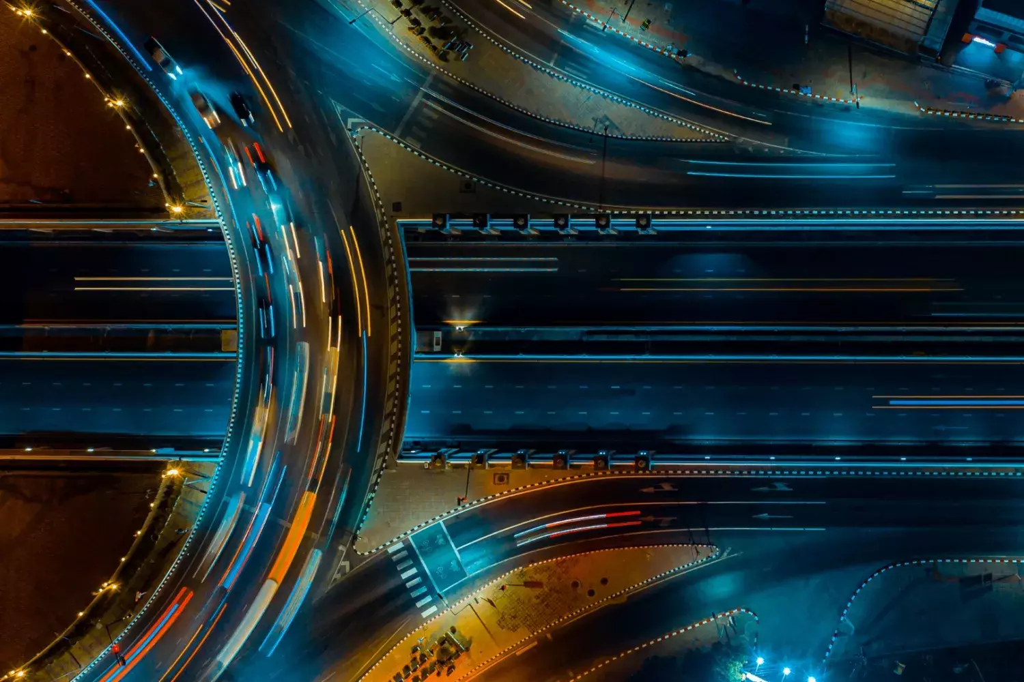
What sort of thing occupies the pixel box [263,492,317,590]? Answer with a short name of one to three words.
bus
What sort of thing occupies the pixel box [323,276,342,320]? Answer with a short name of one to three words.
vehicle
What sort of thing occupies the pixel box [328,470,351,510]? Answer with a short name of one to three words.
car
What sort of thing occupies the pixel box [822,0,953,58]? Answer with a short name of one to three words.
building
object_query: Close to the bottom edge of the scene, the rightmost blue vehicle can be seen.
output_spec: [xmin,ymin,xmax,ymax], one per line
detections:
[253,551,321,661]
